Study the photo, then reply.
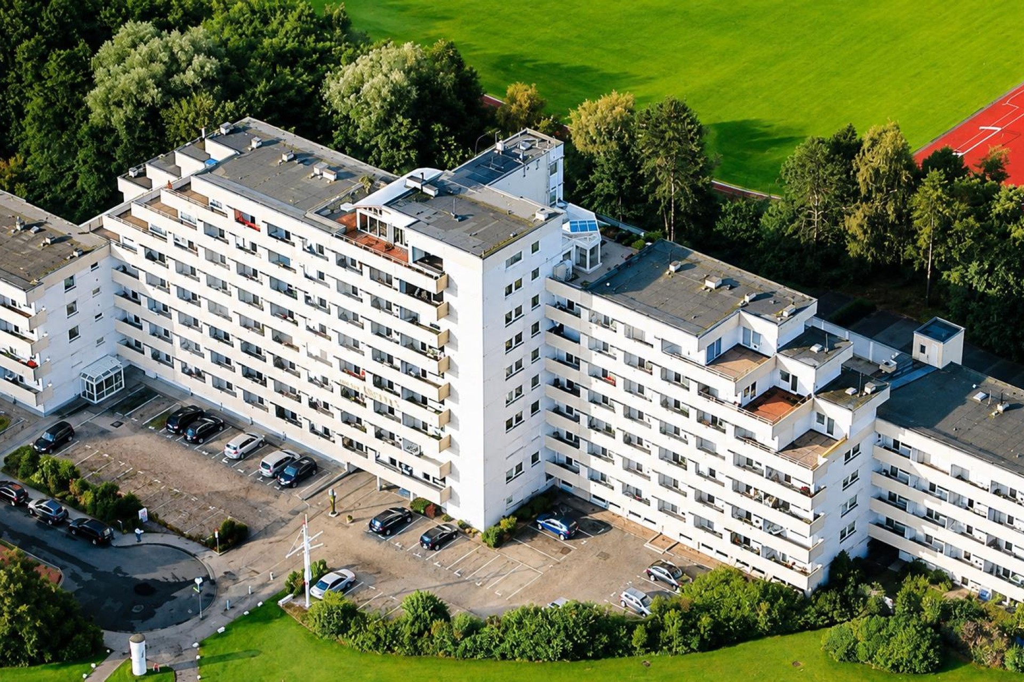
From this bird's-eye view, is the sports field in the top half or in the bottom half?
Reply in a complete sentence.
Seen from above, the sports field lies in the top half of the view.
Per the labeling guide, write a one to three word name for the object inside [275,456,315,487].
car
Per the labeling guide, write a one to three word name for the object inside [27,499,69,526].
car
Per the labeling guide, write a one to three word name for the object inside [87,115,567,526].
building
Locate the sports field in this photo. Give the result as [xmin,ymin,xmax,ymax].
[251,0,1024,208]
